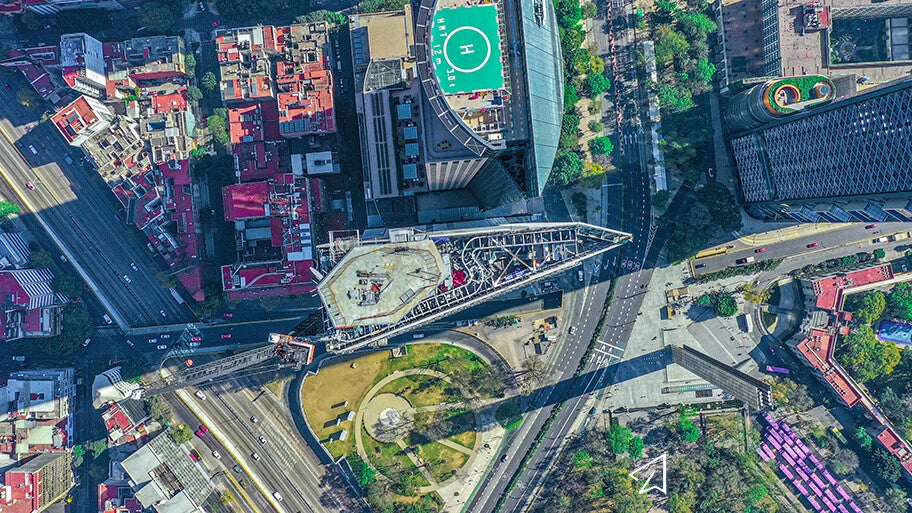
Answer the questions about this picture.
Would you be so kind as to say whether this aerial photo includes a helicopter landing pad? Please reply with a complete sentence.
Yes, this view includes a helicopter landing pad.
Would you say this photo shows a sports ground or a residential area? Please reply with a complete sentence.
The picture captures a residential area.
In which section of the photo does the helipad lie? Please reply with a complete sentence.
Look in the top portion of the view to spot the helipad.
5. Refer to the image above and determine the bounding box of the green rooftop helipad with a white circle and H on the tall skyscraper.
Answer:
[431,5,503,95]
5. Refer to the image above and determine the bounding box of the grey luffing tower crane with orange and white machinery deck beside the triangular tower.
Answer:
[134,315,334,403]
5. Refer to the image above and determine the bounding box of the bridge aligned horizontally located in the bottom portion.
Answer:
[121,315,268,362]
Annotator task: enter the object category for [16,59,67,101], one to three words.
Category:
house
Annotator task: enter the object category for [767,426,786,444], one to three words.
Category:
vehicle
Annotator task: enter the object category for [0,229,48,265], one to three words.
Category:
building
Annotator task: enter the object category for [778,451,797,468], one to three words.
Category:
vehicle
